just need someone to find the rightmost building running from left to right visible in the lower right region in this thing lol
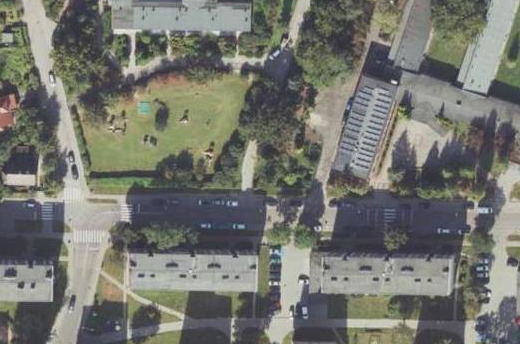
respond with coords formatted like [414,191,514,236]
[321,248,454,296]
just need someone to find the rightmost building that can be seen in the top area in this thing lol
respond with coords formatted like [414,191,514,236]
[398,71,520,162]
